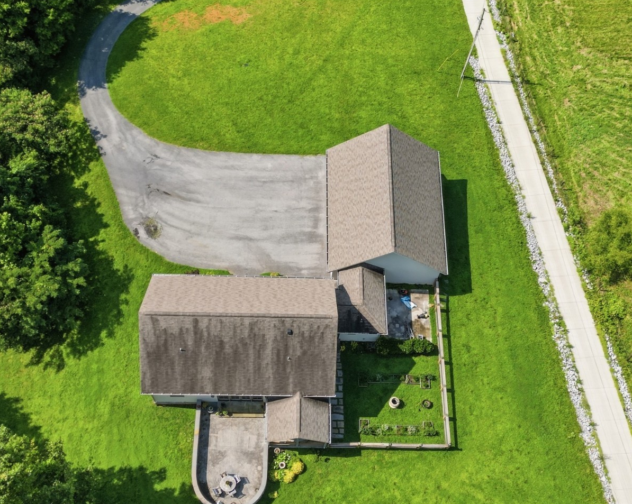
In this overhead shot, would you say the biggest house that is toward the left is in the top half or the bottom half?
bottom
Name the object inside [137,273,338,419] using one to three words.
house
